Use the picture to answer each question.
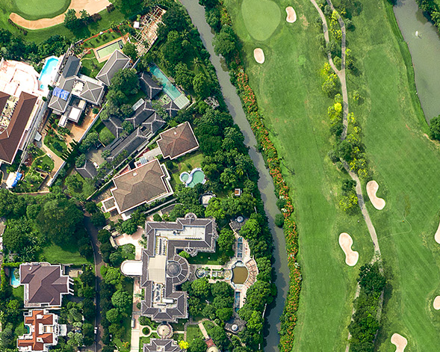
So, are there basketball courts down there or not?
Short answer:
No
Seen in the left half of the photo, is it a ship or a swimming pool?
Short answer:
swimming pool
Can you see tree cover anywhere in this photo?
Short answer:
Yes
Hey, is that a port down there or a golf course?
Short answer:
golf course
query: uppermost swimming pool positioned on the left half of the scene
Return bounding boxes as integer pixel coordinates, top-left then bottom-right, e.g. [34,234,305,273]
[39,55,61,81]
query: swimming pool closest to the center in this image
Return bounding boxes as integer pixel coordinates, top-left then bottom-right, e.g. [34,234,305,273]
[181,170,205,186]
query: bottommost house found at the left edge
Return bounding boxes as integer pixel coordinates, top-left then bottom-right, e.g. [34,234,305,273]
[15,311,68,345]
